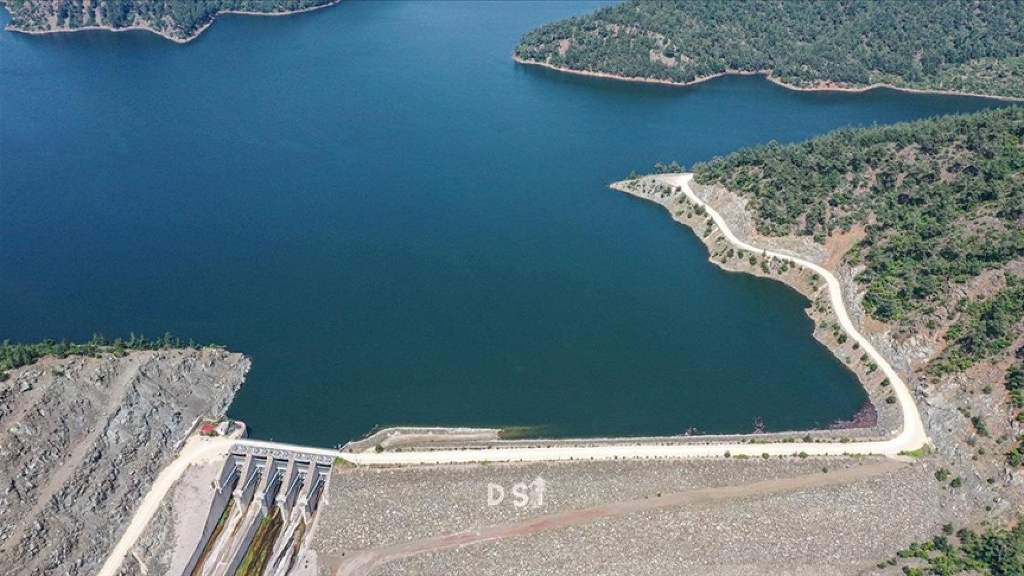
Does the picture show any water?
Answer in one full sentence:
Yes, the picture does contain water.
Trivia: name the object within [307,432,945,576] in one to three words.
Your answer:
dam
